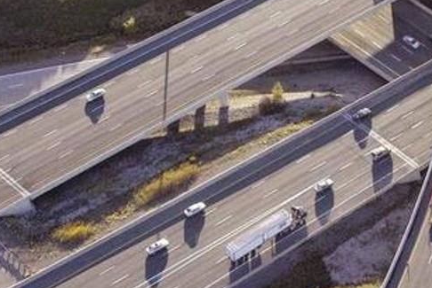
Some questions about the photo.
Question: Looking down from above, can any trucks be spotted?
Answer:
Yes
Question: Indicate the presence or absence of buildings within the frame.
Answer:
No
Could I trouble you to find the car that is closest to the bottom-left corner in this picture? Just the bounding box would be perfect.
[144,238,170,256]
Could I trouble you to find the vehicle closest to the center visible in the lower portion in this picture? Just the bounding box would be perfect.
[182,200,207,217]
